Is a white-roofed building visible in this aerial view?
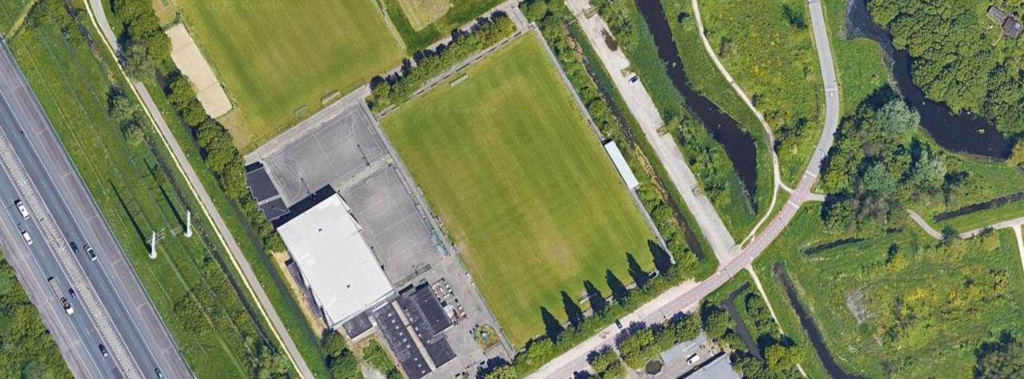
Yes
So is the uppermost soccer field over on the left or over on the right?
left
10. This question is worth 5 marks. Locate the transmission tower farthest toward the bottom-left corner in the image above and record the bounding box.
[149,232,161,261]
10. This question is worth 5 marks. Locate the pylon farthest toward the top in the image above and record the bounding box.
[177,210,193,239]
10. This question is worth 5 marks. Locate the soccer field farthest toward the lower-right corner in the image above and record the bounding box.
[384,33,671,348]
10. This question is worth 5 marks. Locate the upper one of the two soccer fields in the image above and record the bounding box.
[172,0,407,147]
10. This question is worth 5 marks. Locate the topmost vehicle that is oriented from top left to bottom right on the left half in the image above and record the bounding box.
[16,200,30,220]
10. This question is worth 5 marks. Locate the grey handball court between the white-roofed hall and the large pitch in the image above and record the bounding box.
[342,162,447,284]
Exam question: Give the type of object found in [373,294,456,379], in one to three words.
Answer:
building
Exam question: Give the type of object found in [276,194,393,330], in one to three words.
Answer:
building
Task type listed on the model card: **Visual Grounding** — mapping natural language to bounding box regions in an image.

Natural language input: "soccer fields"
[172,0,407,147]
[384,33,671,348]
